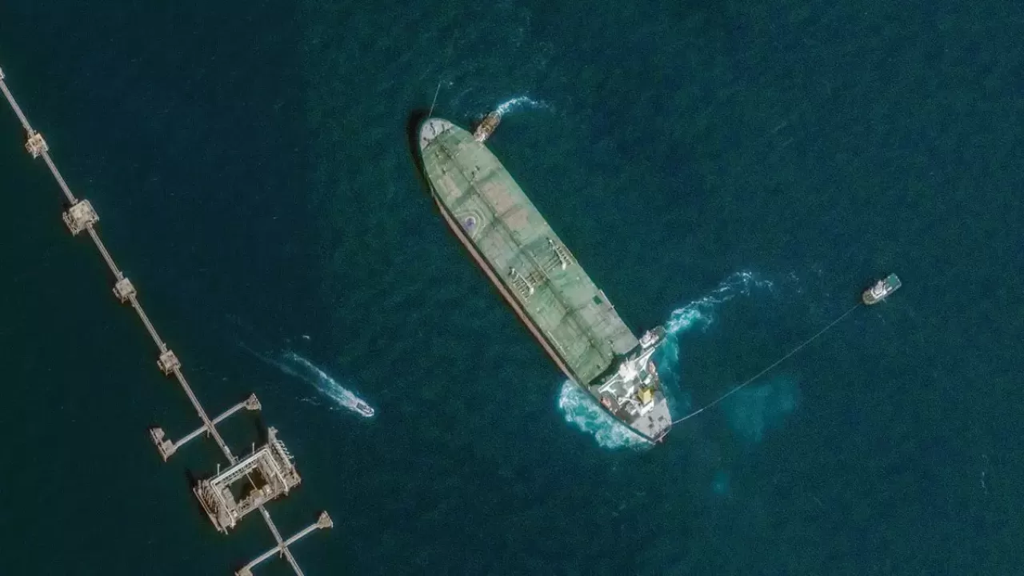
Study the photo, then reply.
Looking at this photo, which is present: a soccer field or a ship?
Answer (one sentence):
Visible in the photo is a ship.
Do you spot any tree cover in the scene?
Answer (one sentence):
No, the picture contains no tree cover.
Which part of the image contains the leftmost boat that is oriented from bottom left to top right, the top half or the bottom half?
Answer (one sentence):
The leftmost boat that is oriented from bottom left to top right is in the top half of the image.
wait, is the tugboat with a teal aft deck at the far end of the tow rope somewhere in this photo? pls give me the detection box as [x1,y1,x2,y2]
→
[862,273,901,303]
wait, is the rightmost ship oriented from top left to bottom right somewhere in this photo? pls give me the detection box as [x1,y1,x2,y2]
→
[420,117,671,447]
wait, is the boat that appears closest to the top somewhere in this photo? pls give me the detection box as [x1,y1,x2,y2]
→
[474,110,502,145]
